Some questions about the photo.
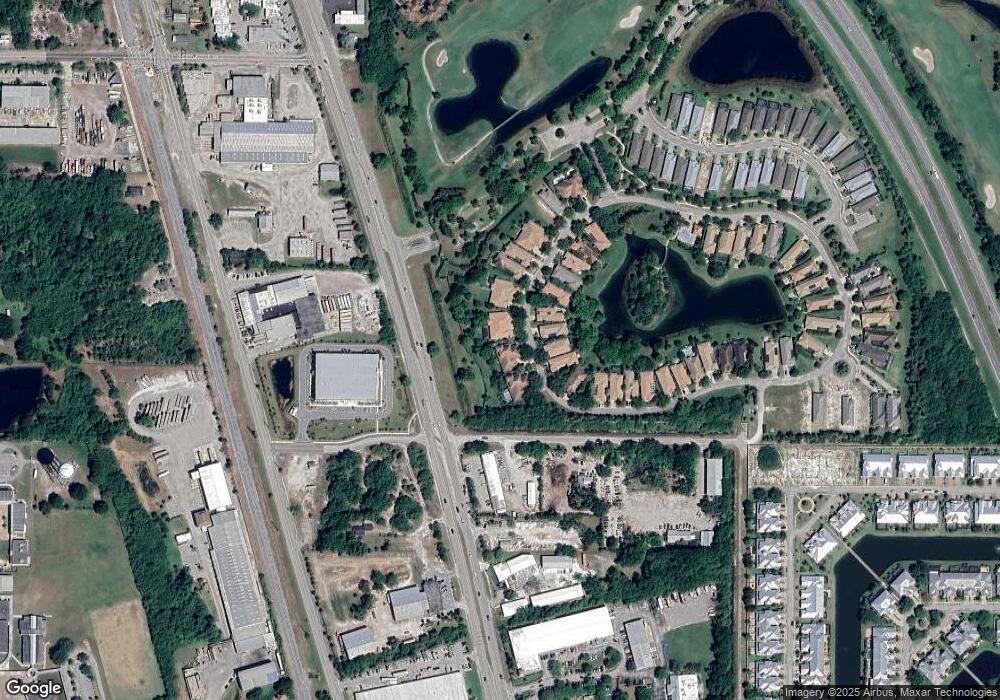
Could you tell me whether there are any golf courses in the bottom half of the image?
No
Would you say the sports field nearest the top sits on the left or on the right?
left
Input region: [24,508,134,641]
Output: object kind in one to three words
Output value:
sports field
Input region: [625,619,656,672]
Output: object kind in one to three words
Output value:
building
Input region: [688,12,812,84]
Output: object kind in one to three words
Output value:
pond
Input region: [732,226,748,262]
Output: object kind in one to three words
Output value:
house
